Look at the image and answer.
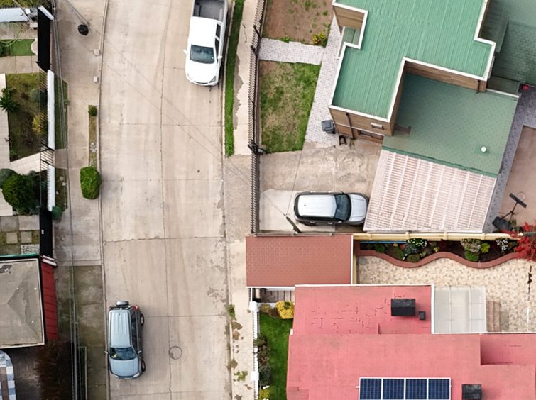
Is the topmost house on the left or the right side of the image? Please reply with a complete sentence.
The topmost house is on the right side of the image.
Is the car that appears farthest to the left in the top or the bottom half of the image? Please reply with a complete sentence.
The car that appears farthest to the left sits in the bottom half of the picture.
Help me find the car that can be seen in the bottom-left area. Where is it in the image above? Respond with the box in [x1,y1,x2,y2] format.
[102,298,144,378]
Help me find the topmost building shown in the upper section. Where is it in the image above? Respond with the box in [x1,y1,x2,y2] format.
[330,0,536,178]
